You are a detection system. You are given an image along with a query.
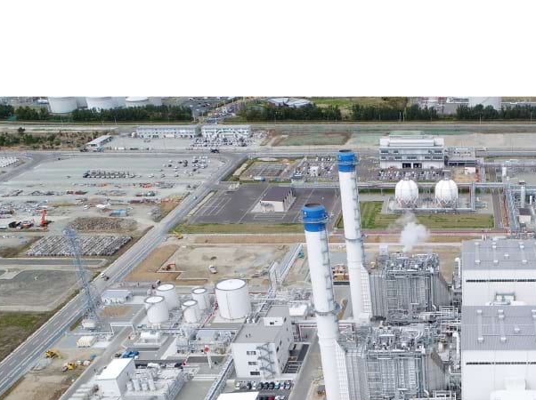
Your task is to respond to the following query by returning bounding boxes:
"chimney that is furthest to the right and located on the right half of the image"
[335,154,366,324]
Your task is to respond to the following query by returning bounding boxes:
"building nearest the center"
[260,191,297,211]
